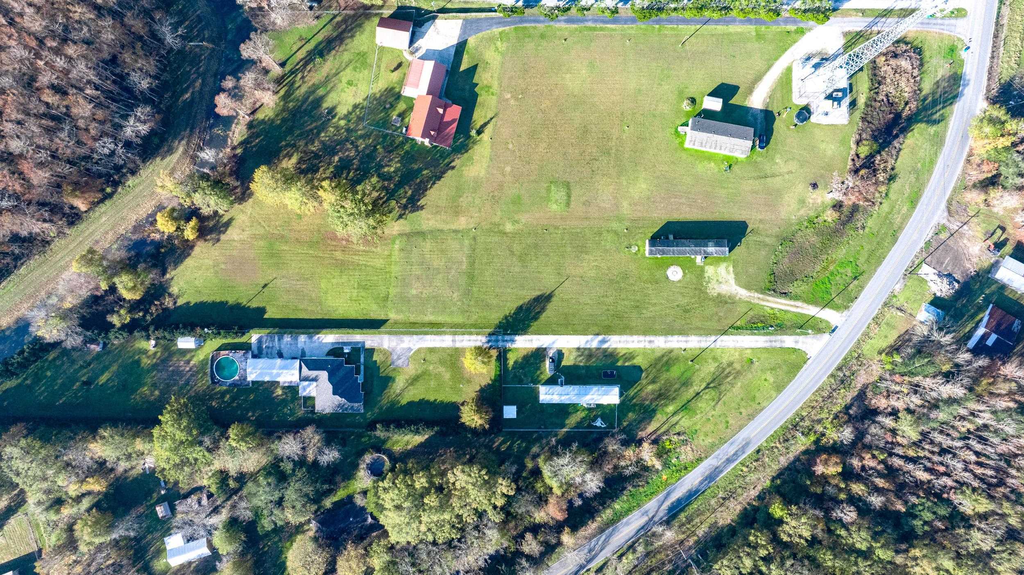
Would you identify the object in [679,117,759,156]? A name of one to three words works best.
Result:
house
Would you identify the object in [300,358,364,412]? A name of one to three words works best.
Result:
house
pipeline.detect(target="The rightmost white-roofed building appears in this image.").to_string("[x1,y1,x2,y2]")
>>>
[988,256,1024,297]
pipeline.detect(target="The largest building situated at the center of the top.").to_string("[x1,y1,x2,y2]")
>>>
[402,58,462,148]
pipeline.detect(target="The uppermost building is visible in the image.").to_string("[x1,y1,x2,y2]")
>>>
[376,17,413,52]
